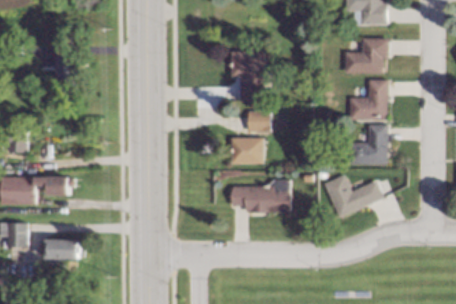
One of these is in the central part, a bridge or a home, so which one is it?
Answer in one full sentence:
What appears in the central part is a home.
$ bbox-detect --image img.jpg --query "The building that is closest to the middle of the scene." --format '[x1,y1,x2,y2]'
[232,138,266,165]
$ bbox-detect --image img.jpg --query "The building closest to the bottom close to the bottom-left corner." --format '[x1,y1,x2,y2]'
[42,239,87,260]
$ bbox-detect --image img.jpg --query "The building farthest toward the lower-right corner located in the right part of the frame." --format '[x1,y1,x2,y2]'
[324,174,384,218]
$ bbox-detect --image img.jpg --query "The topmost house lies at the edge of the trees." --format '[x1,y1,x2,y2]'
[346,0,389,26]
